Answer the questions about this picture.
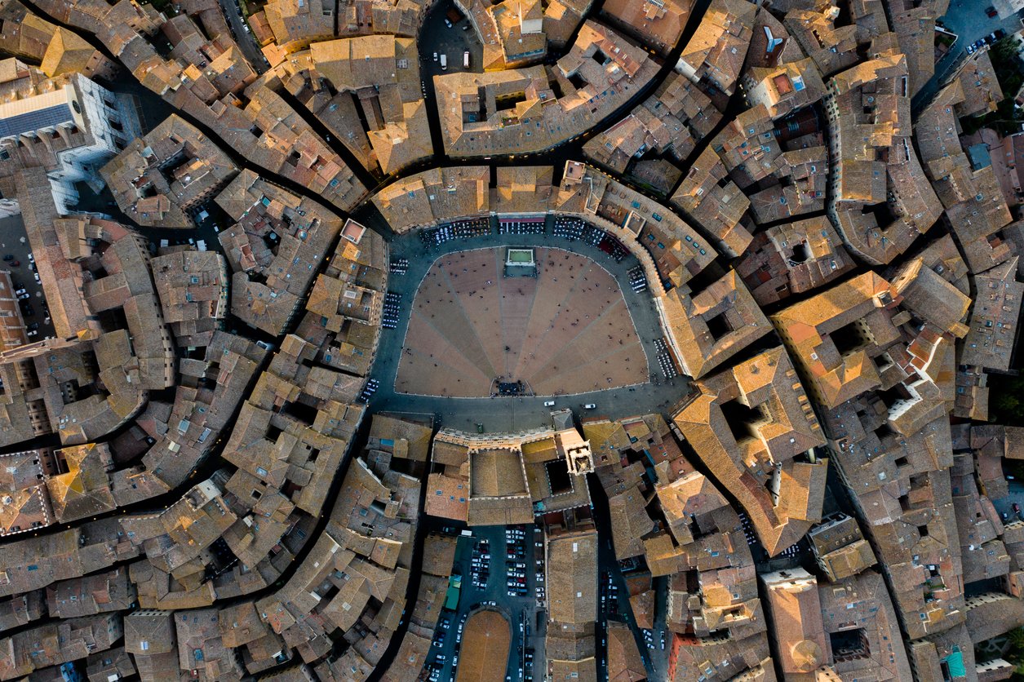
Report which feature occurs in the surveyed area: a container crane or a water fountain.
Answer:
water fountain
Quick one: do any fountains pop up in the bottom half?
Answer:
No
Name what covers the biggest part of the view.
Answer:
buildings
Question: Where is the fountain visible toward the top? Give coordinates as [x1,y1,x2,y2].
[505,244,536,279]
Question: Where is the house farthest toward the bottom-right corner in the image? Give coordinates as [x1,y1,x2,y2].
[975,653,1017,682]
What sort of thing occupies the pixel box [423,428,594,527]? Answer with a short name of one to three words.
building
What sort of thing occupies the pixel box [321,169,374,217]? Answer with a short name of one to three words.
house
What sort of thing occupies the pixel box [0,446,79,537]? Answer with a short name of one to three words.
building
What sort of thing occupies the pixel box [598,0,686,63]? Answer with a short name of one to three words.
house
